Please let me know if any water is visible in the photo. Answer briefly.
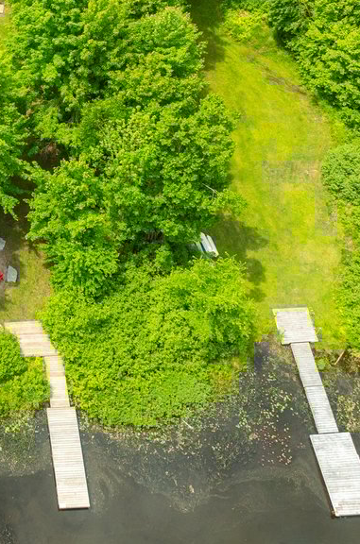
Yes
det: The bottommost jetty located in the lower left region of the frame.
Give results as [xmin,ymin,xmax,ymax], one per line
[46,405,91,512]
